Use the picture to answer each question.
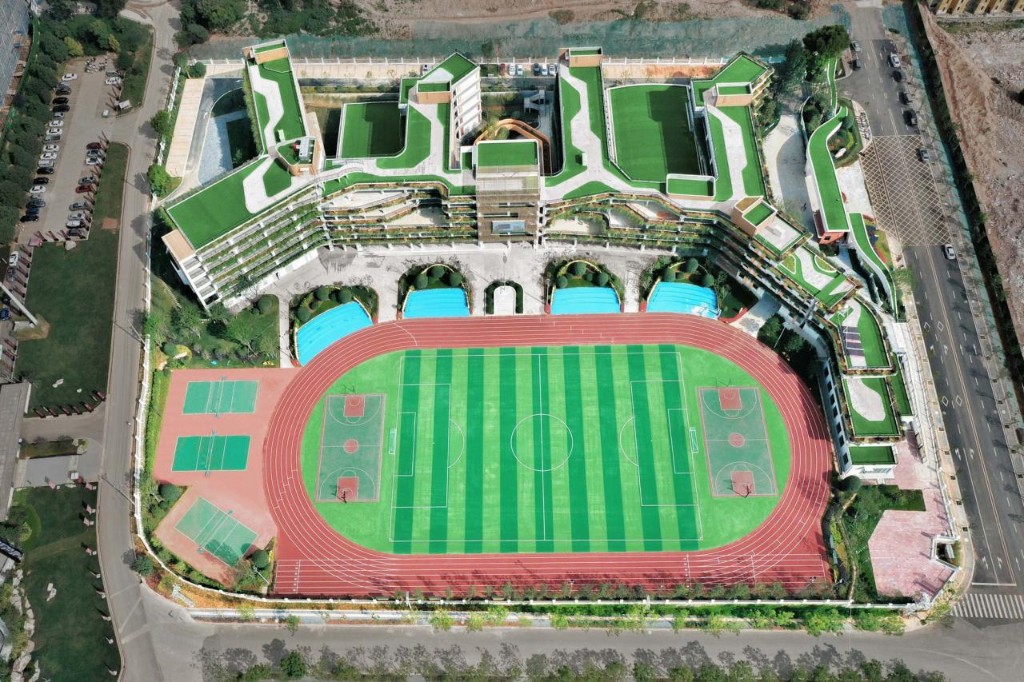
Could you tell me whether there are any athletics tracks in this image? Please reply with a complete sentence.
Yes, there's an athletics track down there.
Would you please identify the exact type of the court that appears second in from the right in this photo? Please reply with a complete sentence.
It looks like the court that appears second in from the right is a basketball court.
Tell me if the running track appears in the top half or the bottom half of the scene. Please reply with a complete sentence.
It is in the bottom half that the running track appears.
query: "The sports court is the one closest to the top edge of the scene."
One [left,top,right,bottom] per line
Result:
[182,381,259,414]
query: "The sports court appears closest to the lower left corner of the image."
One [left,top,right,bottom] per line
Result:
[175,496,258,567]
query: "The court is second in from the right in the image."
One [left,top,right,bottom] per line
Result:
[313,393,387,503]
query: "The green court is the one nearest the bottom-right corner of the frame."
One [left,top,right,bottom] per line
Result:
[697,385,779,498]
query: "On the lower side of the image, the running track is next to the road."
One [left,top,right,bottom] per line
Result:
[263,311,834,597]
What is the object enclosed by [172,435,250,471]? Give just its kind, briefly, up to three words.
sports court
